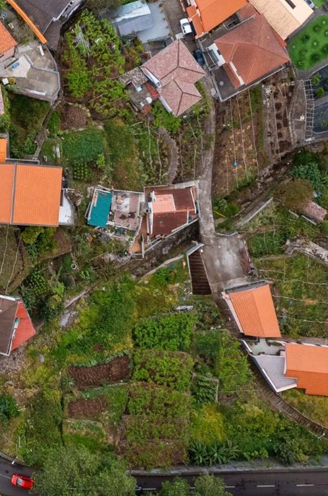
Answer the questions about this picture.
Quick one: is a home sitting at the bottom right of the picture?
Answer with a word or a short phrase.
Yes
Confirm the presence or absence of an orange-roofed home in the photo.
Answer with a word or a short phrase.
Yes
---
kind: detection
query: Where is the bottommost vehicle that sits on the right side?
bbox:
[194,45,207,67]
